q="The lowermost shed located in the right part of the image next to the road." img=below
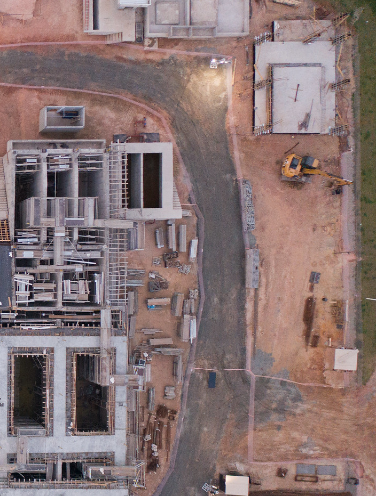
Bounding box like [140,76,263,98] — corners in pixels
[215,471,249,496]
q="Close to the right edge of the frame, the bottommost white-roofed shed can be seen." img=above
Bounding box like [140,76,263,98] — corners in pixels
[322,348,358,370]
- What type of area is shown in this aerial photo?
industrial area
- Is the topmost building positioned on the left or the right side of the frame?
right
